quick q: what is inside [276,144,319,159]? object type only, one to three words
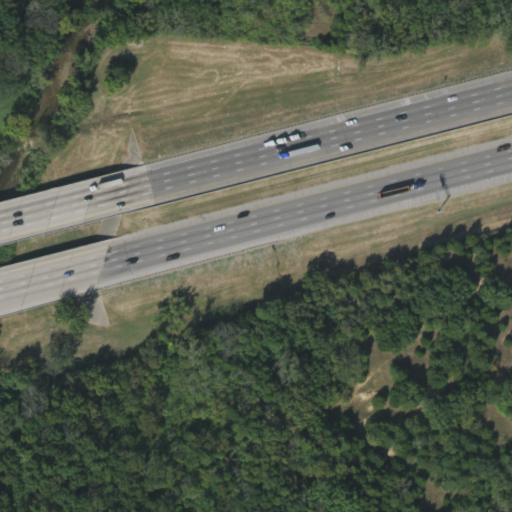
vehicle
